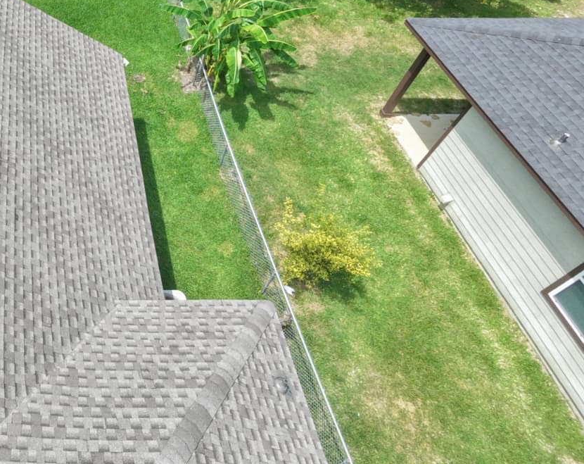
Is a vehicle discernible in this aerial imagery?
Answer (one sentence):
No, no vehicle can be seen from above.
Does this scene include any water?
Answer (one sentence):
No, there is no water in the image.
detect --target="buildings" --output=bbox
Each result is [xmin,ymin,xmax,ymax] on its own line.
[385,18,584,430]
[0,0,328,464]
